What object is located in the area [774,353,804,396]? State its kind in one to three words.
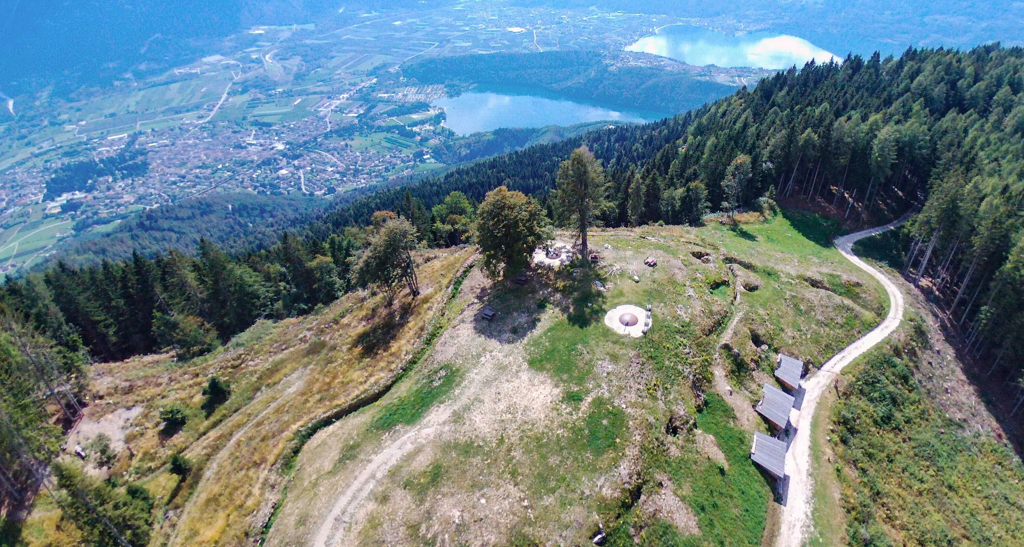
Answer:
shed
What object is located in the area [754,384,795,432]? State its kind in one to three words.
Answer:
shed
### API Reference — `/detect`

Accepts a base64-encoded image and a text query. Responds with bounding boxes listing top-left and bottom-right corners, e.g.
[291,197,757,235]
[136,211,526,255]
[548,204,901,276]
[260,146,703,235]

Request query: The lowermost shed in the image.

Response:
[750,430,787,480]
